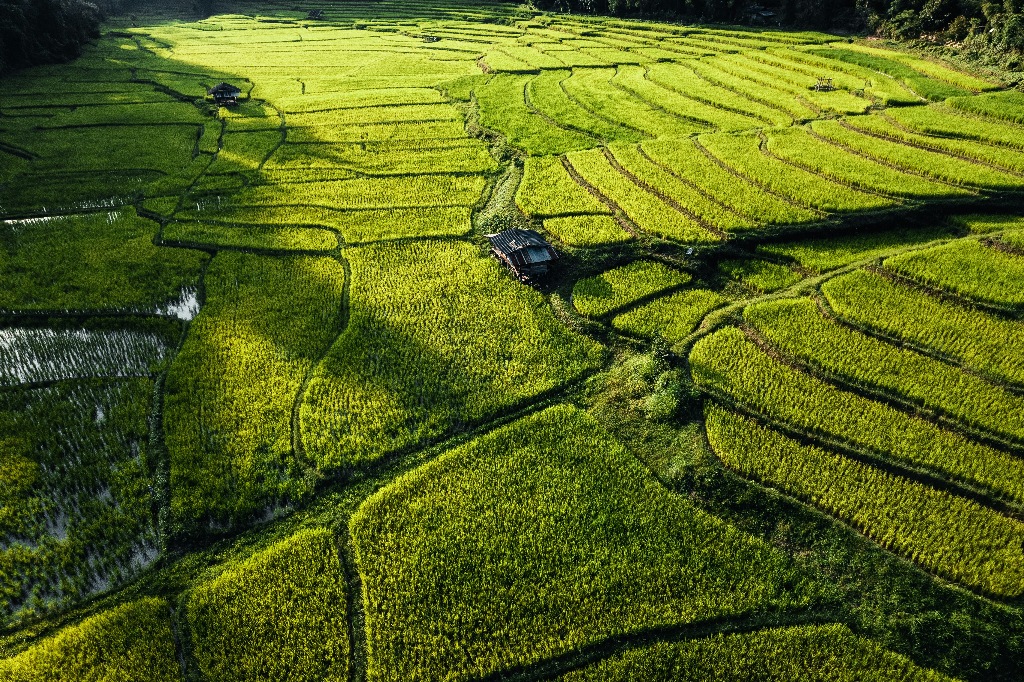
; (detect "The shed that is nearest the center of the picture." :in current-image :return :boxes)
[478,227,559,279]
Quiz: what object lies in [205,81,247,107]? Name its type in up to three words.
shed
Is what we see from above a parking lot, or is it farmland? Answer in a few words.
farmland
